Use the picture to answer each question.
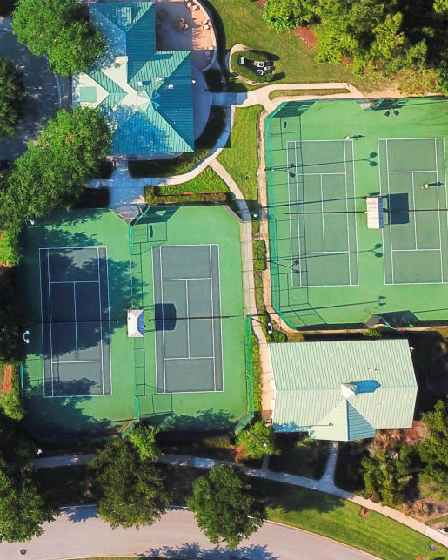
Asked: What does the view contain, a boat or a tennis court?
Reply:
tennis court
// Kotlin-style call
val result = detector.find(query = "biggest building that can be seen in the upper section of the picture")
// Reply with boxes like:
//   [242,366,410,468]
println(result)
[72,1,194,152]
